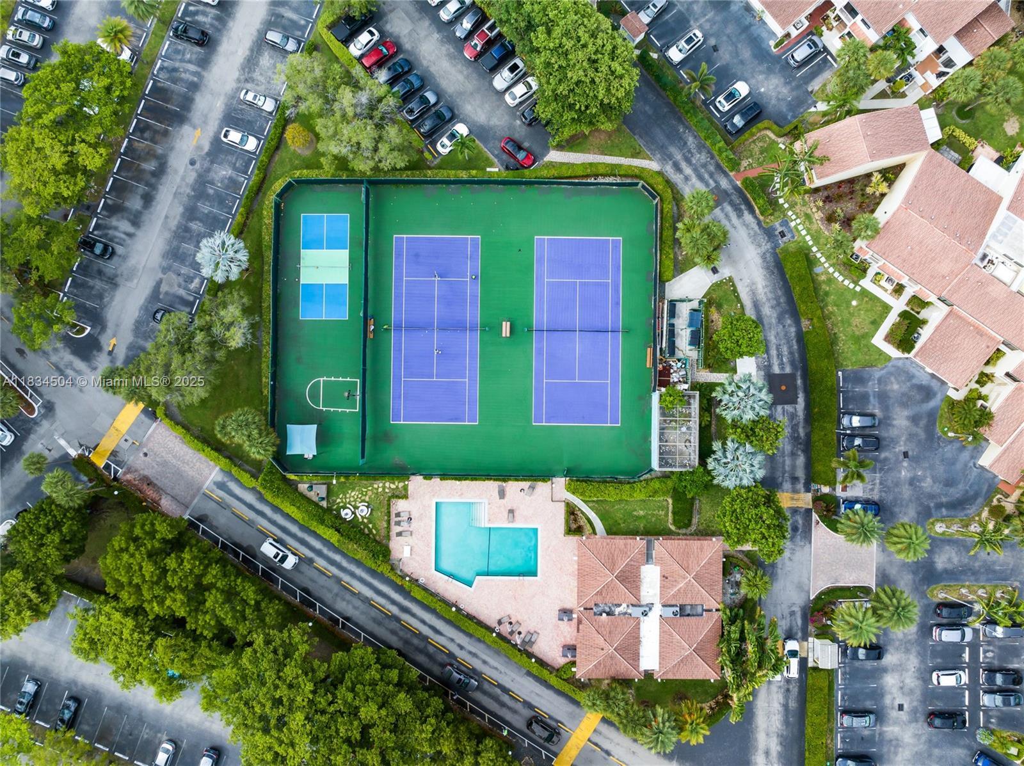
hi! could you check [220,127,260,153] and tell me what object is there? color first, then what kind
white car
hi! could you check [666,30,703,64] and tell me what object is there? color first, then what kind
white car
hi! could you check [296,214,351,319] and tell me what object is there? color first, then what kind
blue sports court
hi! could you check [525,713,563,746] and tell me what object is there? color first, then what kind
gray car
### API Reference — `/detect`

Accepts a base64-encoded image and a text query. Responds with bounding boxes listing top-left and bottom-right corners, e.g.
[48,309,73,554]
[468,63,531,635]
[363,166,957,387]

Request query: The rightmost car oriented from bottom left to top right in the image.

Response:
[785,34,826,69]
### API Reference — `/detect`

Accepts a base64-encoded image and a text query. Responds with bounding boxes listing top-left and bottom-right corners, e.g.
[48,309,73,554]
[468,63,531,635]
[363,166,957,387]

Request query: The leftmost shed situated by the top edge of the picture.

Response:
[619,11,648,46]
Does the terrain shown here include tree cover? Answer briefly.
Yes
